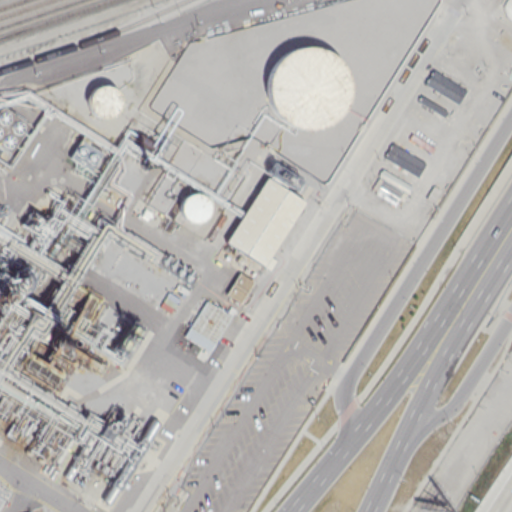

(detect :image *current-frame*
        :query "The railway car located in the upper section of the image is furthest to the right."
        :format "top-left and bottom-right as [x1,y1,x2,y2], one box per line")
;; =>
[75,28,120,46]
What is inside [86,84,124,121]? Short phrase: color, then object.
white storage tank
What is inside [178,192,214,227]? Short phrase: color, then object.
white storage tank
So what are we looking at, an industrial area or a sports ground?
industrial area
